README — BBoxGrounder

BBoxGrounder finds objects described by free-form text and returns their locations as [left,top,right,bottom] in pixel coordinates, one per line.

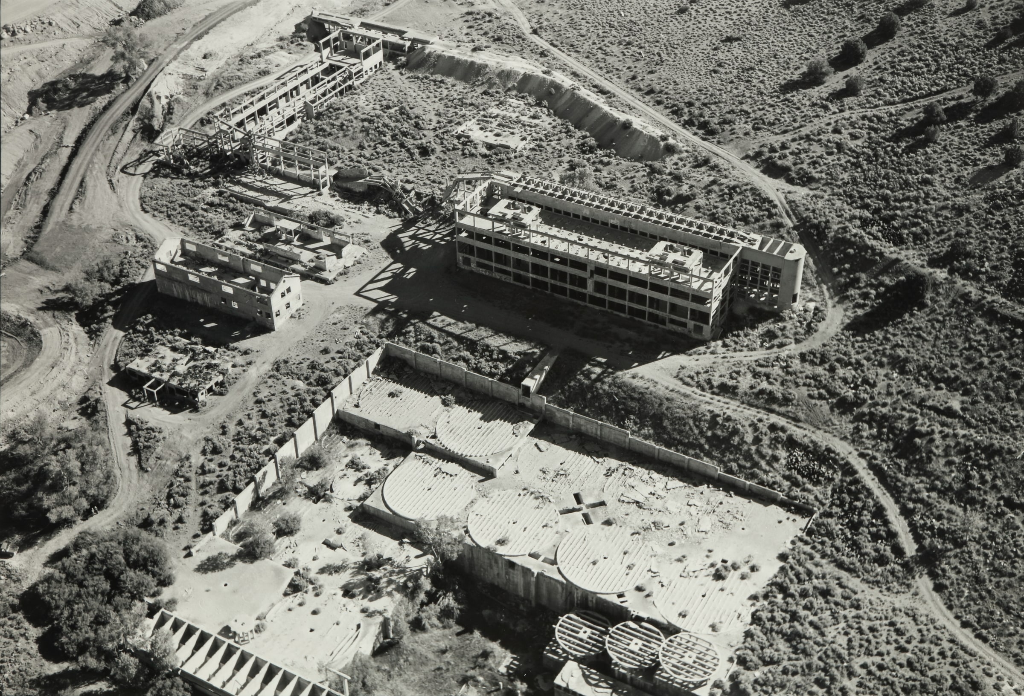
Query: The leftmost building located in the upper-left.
[150,127,224,168]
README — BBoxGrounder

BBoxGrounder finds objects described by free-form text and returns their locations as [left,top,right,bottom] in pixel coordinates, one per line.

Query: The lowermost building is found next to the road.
[126,346,225,407]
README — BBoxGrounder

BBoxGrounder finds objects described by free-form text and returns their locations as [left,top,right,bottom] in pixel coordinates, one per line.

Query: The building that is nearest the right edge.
[455,173,805,338]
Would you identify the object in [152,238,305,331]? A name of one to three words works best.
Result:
building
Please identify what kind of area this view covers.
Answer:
industrial area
